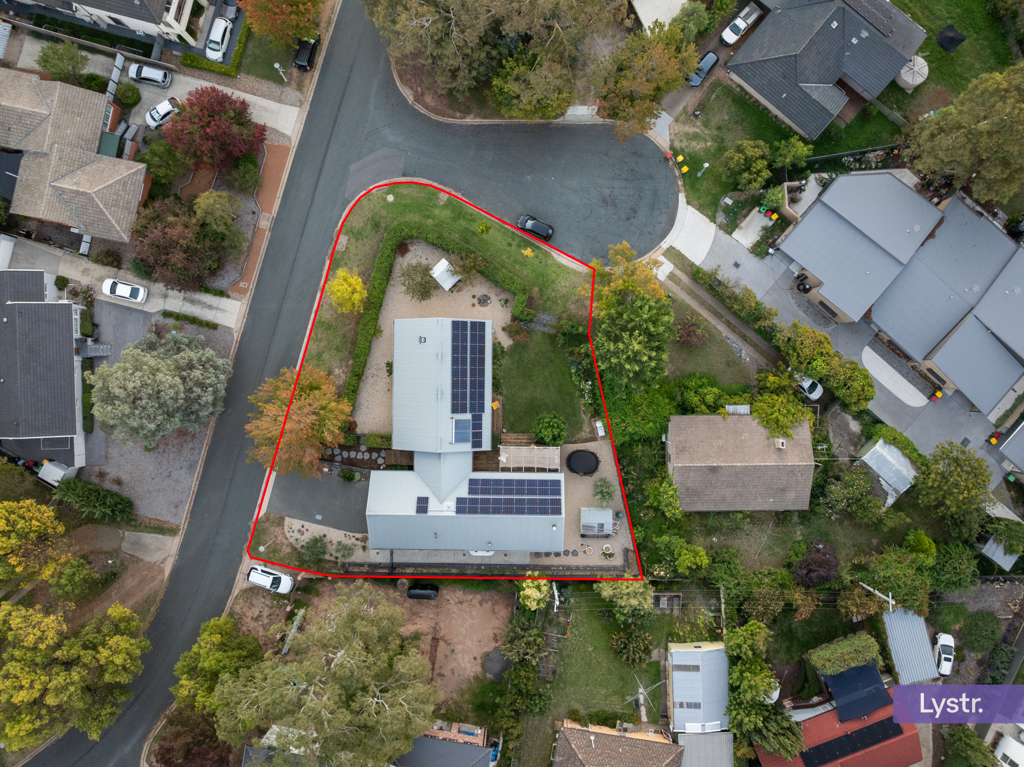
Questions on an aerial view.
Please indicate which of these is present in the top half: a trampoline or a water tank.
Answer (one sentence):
Visible in the top half is a water tank.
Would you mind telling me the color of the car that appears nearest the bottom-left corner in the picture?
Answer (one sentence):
From above, the car that appears nearest the bottom-left corner appears white.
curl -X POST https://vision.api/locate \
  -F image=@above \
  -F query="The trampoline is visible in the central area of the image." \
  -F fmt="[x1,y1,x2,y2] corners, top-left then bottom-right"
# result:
[566,449,601,478]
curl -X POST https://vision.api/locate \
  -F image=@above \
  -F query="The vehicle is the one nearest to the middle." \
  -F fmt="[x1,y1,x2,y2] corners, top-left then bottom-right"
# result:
[515,213,557,243]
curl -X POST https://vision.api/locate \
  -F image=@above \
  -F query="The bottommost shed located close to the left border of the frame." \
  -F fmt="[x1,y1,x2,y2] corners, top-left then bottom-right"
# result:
[38,459,76,486]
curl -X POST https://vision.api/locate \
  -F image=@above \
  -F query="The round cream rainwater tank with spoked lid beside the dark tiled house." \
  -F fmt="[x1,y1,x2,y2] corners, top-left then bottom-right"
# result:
[888,57,928,96]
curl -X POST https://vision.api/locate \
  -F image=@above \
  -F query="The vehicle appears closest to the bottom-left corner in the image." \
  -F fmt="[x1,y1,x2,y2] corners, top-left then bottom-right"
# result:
[244,564,296,596]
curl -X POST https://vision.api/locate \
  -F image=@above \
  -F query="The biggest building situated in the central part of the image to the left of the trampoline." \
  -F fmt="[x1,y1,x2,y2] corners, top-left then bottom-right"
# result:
[366,317,565,552]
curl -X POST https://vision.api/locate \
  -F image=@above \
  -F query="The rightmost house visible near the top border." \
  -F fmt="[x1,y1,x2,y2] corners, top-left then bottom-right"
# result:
[725,0,935,142]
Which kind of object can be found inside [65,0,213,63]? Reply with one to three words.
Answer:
house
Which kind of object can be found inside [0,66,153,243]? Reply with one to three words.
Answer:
house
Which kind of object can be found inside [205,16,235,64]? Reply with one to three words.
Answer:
car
